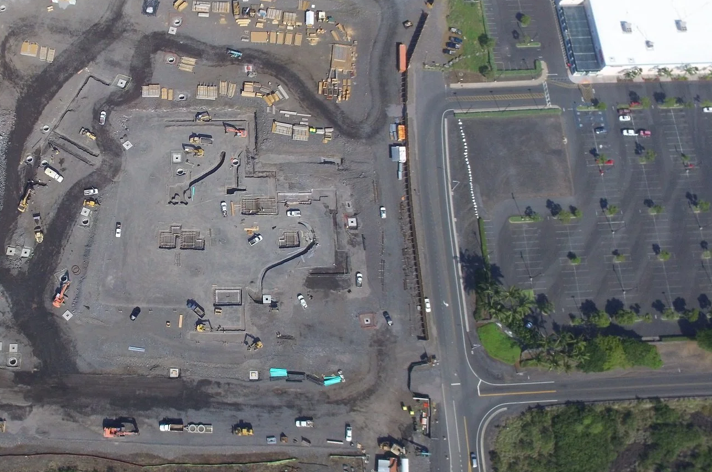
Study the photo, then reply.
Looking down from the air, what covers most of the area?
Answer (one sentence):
The scene is dominated by paved ground.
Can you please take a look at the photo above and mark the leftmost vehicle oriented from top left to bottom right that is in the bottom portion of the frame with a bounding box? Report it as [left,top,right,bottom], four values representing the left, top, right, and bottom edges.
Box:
[186,300,205,318]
